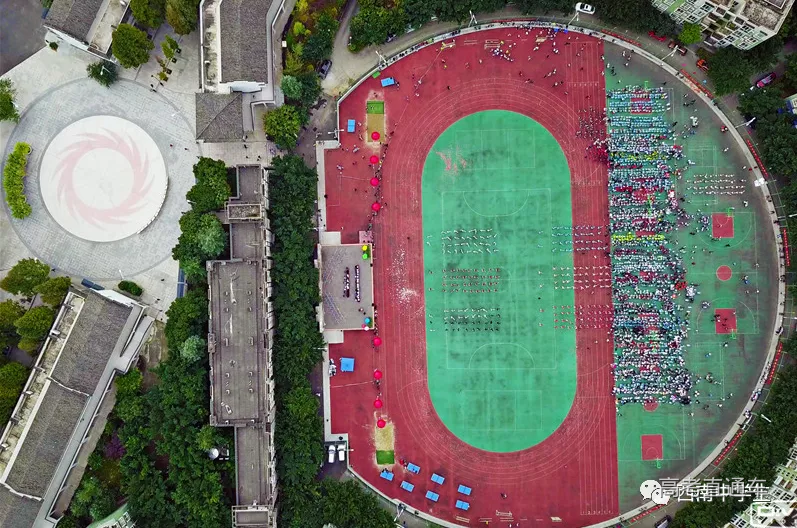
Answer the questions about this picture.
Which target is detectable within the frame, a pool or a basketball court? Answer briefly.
basketball court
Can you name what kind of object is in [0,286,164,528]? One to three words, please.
building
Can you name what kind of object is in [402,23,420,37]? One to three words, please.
vehicle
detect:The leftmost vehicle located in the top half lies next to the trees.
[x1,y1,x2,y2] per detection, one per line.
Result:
[318,58,331,76]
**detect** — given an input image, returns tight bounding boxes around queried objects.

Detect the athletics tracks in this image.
[325,26,620,528]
